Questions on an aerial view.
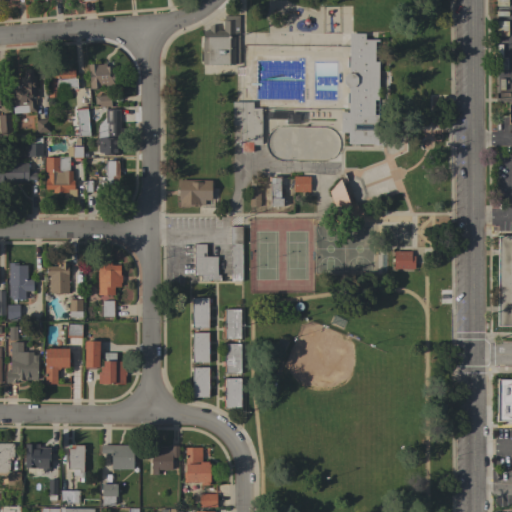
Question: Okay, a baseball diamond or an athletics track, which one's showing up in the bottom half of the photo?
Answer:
baseball diamond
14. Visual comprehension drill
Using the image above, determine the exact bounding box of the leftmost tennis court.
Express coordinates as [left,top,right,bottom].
[250,218,282,292]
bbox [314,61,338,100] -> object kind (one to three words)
swimming pool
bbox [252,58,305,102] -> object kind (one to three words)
swimming pool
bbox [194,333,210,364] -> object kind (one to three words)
building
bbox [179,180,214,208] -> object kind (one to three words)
house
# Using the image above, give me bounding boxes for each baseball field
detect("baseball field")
[268,316,424,466]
